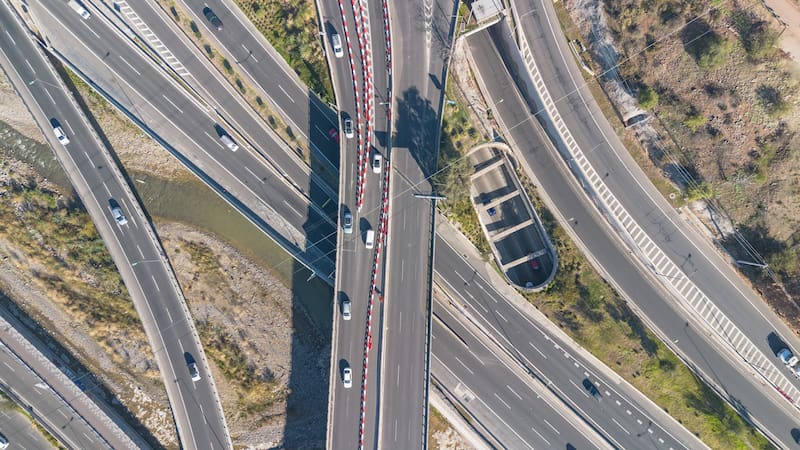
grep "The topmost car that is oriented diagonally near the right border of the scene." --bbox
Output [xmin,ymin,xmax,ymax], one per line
[777,347,798,368]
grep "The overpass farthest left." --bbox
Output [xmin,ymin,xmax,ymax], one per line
[0,0,236,450]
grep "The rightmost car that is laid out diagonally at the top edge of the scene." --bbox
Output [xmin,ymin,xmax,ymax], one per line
[204,8,222,29]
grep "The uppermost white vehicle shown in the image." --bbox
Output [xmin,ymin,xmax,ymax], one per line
[63,0,95,23]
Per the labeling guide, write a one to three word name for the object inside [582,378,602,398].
car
